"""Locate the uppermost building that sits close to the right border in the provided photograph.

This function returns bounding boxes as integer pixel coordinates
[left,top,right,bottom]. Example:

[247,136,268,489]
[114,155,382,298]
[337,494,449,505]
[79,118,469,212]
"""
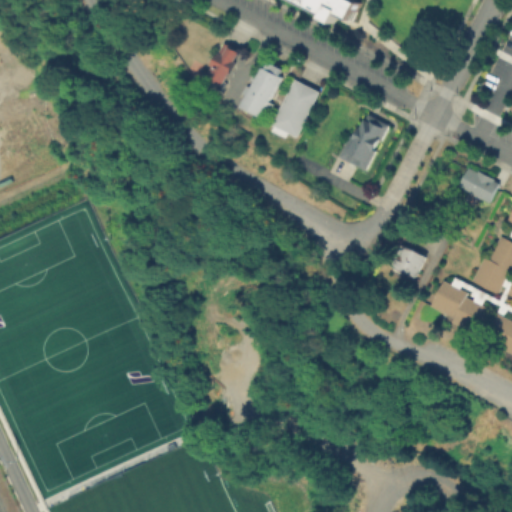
[460,167,502,203]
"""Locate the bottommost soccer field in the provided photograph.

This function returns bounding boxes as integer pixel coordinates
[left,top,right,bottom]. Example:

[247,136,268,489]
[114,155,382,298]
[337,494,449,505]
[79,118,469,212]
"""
[50,445,272,512]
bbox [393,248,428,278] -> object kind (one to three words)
house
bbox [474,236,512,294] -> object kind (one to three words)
building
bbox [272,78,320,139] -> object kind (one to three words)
house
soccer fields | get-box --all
[50,445,272,512]
[0,204,194,497]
